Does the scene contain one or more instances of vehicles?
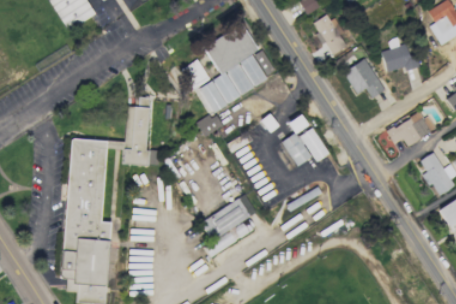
Yes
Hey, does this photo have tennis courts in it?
No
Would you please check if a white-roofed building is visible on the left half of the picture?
Yes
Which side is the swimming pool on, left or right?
right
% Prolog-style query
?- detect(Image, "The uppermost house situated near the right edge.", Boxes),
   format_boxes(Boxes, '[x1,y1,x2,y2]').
[430,0,456,46]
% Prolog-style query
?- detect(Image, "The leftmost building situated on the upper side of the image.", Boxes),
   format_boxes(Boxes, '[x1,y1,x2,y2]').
[50,0,96,28]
